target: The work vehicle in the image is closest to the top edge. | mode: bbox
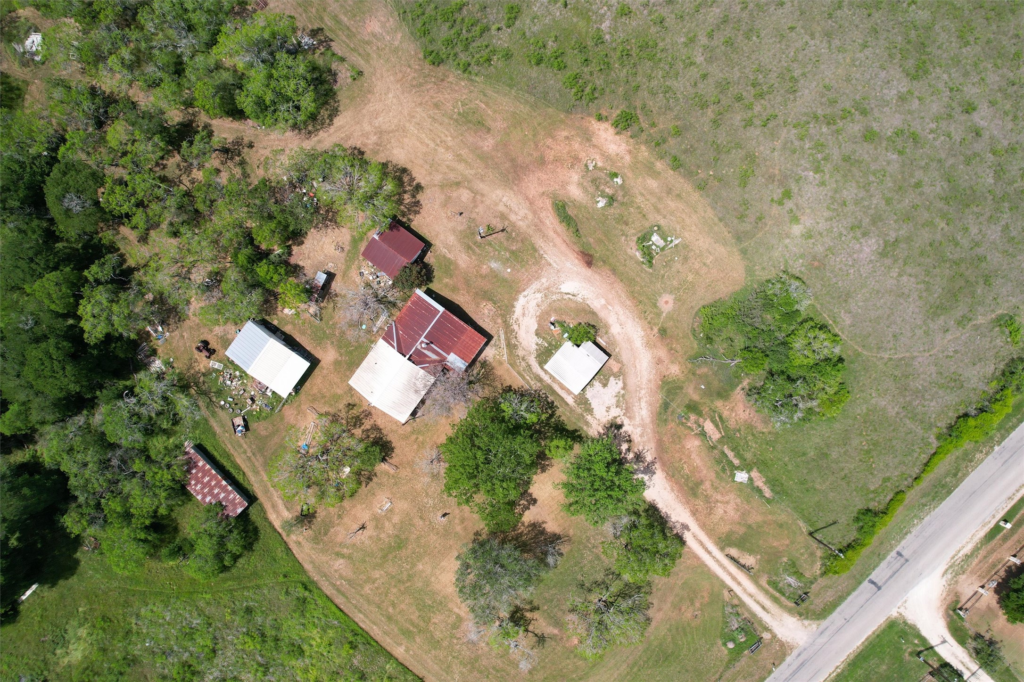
[192,339,216,361]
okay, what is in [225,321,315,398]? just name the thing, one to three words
building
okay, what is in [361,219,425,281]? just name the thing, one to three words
house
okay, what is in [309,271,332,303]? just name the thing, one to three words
shed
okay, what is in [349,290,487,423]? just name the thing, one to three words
house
